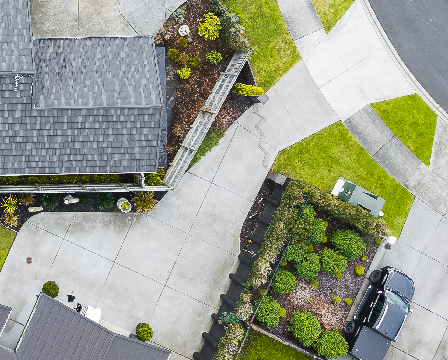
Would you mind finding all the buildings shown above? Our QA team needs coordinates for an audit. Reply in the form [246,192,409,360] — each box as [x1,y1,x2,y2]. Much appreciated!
[0,292,173,360]
[0,0,164,179]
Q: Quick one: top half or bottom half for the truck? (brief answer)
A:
bottom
